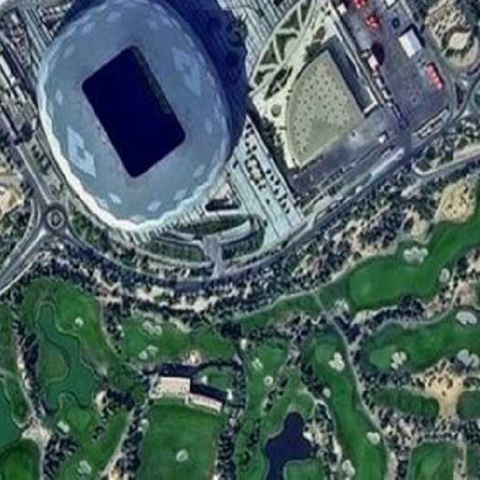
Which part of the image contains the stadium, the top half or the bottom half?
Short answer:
top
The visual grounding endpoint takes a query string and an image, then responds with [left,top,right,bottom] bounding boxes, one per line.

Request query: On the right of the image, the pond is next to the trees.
[266,412,315,480]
